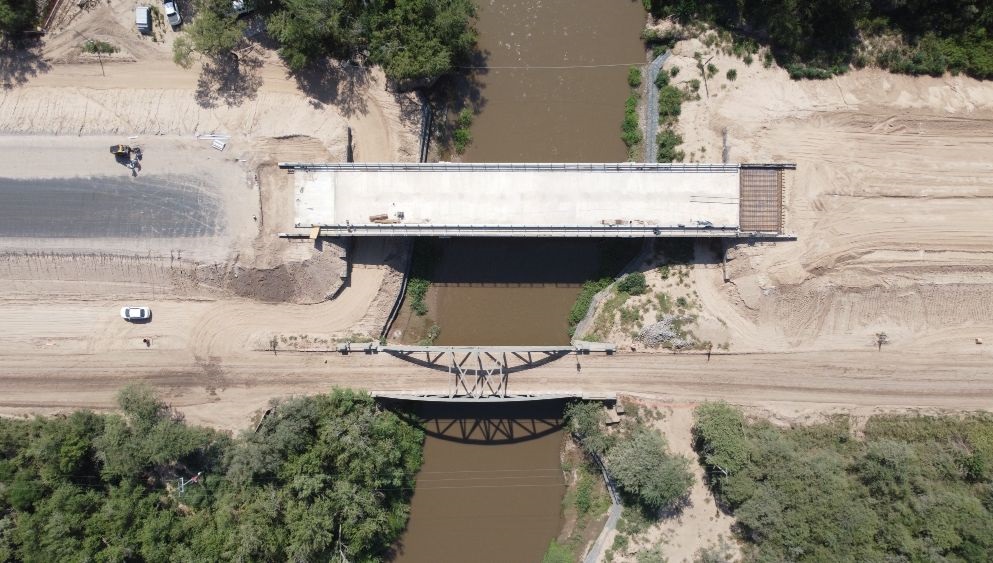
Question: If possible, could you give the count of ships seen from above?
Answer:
0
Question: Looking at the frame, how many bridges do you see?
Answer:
2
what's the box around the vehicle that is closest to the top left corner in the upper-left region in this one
[133,2,153,35]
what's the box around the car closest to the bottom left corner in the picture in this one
[120,307,152,322]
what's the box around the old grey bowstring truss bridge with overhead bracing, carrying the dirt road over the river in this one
[339,341,616,403]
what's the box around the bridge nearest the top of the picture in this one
[277,126,797,303]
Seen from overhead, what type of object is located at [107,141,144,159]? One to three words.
work vehicle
